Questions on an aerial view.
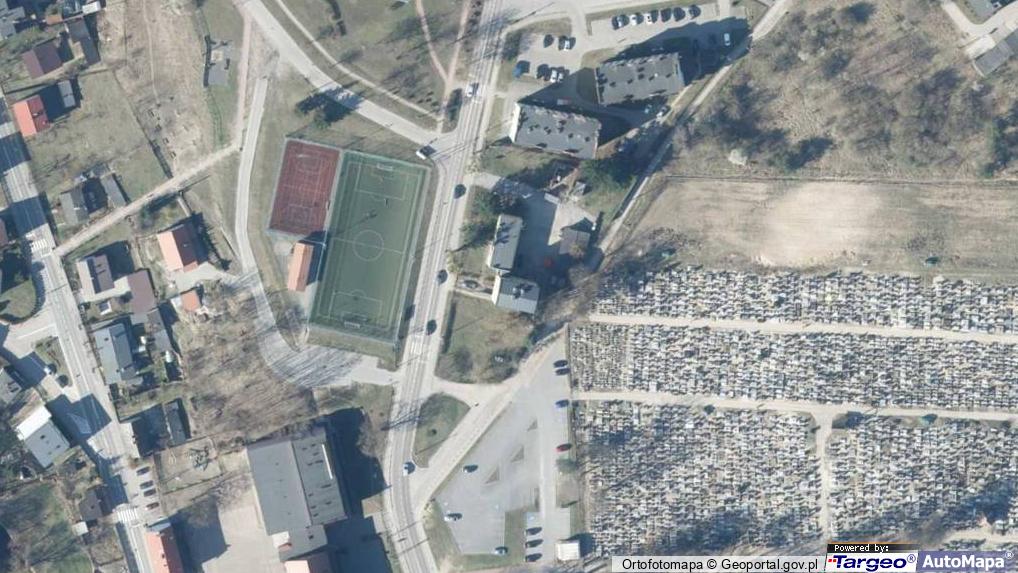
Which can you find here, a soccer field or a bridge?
soccer field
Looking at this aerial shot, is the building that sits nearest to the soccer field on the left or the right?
left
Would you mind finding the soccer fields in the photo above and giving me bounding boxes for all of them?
[310,153,429,341]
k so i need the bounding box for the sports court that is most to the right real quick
[268,141,340,240]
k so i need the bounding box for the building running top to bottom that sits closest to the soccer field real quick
[288,243,314,291]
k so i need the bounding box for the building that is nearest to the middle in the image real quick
[495,276,539,314]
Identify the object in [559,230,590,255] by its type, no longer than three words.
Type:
shed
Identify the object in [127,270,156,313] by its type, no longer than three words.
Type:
building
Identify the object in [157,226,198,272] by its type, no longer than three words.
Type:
house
